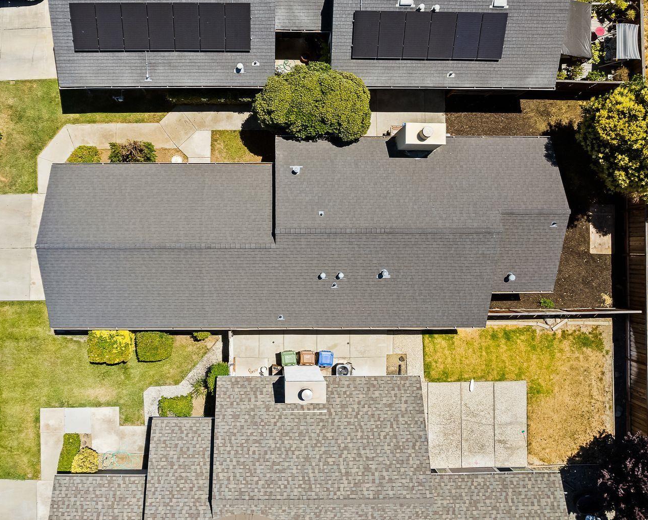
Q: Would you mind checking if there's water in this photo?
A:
No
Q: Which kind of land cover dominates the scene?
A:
buildings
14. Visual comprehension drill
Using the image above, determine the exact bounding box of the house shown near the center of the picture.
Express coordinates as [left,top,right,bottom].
[37,123,571,331]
